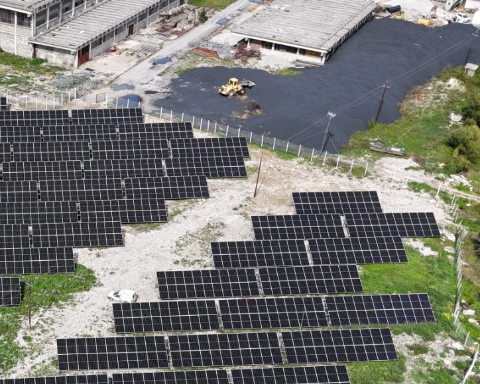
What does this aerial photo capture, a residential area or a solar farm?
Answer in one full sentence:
This looks like a solar farm.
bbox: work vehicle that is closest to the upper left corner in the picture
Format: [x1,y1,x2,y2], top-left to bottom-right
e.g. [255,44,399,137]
[218,79,256,99]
